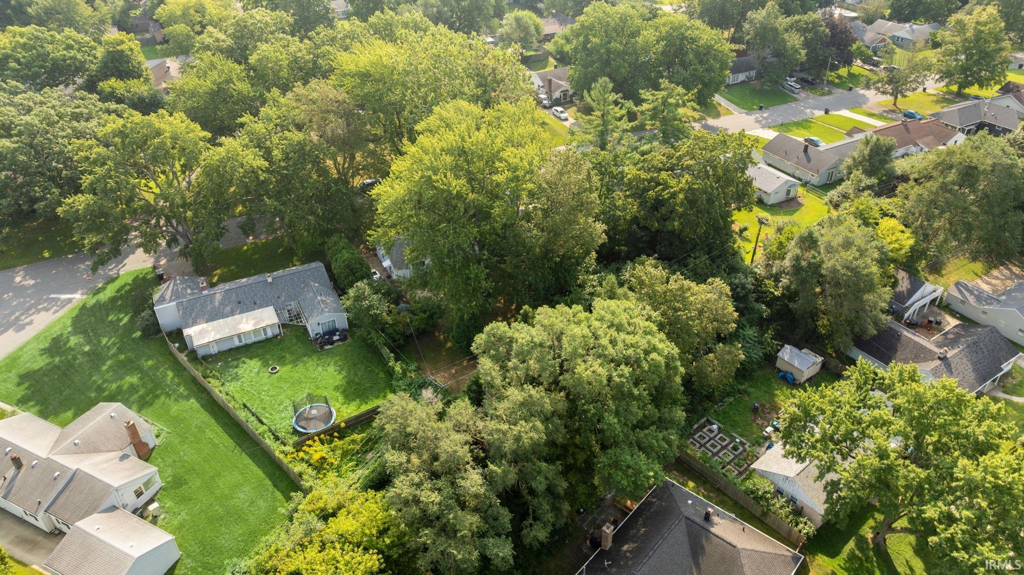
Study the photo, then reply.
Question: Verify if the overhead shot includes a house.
Yes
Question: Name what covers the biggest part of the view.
trees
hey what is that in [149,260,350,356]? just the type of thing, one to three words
house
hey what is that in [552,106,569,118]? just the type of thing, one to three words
vehicle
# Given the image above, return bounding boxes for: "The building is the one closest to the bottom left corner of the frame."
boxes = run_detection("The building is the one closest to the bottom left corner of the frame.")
[0,399,178,575]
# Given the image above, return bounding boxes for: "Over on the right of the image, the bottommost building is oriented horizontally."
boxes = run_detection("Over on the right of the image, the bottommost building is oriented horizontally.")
[586,478,806,575]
